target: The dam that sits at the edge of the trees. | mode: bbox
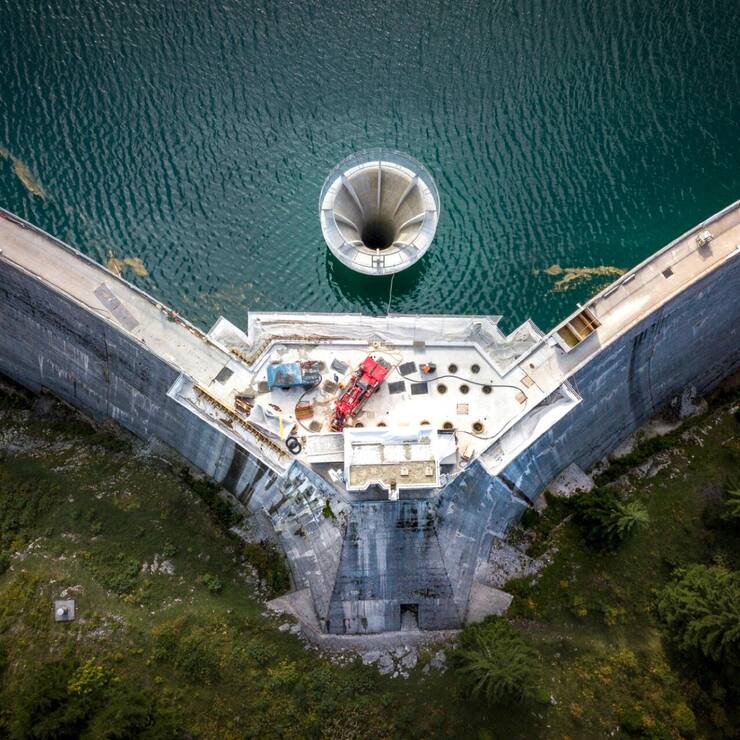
[0,199,740,632]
